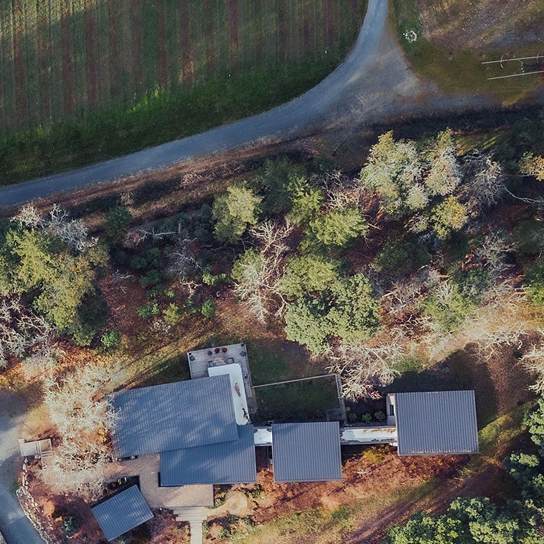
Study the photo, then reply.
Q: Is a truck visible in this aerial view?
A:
No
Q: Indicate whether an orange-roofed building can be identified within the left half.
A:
No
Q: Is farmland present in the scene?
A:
Yes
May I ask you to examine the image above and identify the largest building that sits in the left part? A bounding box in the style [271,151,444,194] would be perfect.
[111,362,256,486]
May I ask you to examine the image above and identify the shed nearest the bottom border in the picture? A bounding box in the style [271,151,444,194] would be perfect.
[91,484,153,542]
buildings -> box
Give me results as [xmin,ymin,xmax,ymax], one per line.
[111,362,256,486]
[269,421,342,483]
[388,390,478,457]
[91,484,153,542]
